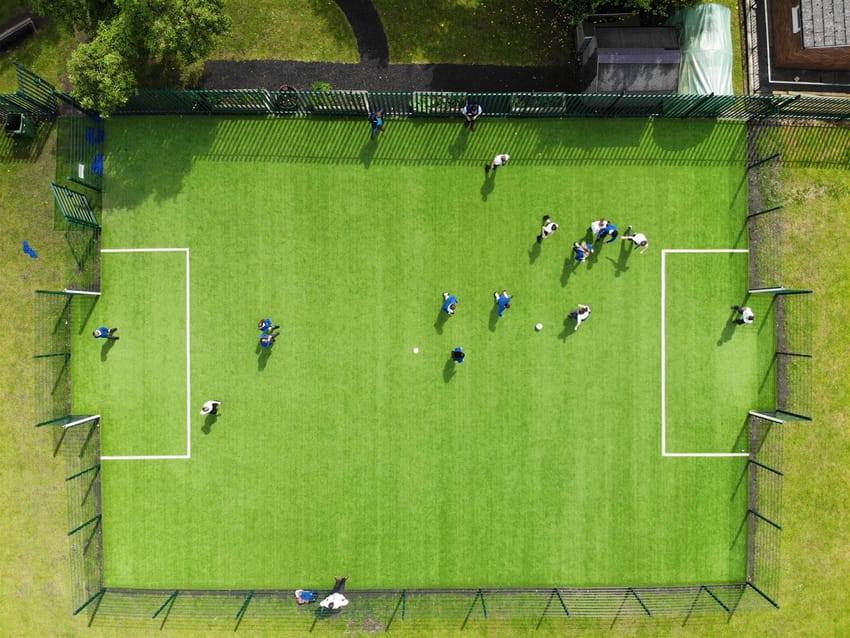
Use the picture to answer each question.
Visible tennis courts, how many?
0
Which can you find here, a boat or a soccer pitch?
soccer pitch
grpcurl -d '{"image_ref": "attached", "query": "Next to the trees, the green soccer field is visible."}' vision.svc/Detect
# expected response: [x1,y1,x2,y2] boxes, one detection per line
[67,115,779,592]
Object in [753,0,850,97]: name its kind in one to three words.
building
